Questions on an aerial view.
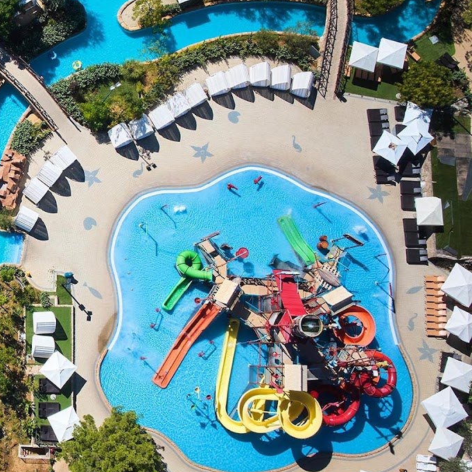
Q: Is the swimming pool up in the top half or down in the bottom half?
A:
bottom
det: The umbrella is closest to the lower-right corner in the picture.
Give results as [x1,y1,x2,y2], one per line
[424,423,464,462]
